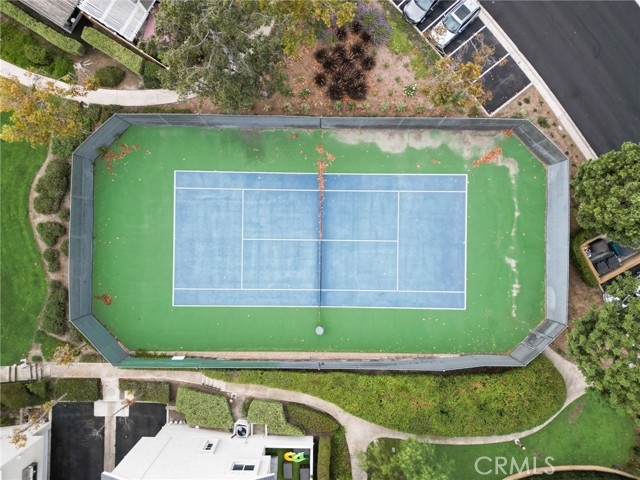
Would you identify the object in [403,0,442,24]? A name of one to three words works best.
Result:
car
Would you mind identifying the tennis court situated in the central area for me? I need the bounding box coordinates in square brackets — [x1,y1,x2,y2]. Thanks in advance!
[92,125,548,360]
